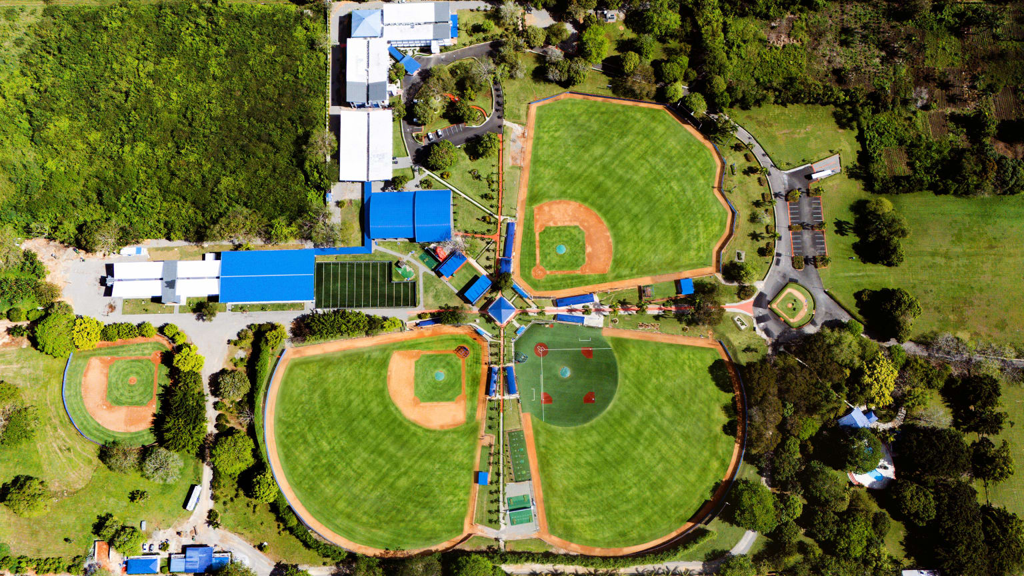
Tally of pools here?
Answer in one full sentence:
The photo contains exactly 1 pool.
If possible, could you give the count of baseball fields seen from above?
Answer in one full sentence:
There are 4 baseball fields in the image.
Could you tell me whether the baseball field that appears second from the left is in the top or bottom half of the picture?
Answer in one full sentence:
The baseball field that appears second from the left is in the bottom half of the image.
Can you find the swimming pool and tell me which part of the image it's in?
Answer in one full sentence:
Look in the bottom right portion of the view to spot the swimming pool.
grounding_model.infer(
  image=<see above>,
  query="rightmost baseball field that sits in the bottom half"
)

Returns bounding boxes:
[513,322,747,556]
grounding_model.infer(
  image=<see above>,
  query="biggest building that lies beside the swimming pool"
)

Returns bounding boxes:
[836,408,869,432]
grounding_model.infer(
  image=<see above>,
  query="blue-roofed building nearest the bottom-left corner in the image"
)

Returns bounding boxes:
[127,559,158,574]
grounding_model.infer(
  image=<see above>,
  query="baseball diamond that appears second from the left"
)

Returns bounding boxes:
[265,324,490,557]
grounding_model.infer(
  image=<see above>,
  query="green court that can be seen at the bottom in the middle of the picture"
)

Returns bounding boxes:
[507,428,531,483]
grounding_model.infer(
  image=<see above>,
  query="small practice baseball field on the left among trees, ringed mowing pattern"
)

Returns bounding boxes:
[63,333,175,449]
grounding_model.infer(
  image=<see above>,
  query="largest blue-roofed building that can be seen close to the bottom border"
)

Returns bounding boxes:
[185,545,216,573]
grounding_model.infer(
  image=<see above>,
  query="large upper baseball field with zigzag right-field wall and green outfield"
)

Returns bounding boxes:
[516,93,736,298]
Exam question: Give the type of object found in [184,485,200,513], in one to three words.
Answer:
vehicle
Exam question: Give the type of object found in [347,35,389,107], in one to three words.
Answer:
building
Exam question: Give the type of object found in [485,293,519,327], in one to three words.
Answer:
building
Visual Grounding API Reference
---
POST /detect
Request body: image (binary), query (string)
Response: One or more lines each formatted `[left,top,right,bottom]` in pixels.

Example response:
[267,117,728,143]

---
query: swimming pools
[847,434,896,489]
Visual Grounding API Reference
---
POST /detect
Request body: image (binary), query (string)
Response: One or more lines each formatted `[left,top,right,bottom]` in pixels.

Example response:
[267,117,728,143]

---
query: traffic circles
[767,282,816,329]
